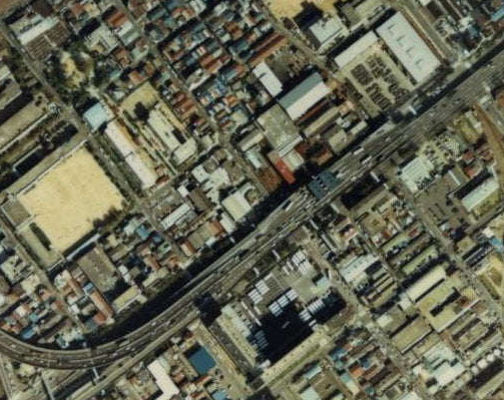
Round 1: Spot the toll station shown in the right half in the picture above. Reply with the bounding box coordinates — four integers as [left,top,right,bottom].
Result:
[309,169,337,198]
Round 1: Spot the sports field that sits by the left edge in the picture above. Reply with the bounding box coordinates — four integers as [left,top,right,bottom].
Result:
[20,148,126,255]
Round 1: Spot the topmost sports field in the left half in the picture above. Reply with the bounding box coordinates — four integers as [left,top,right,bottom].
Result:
[123,82,163,117]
